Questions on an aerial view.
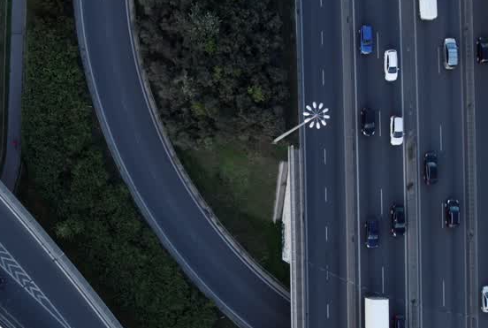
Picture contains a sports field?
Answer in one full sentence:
No, there's no sports field here.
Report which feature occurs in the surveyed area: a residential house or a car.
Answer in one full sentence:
There is a car in the scene.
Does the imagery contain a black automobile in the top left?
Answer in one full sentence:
No, in the top left there is no black automobile.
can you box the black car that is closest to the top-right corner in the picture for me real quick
[475,38,488,64]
